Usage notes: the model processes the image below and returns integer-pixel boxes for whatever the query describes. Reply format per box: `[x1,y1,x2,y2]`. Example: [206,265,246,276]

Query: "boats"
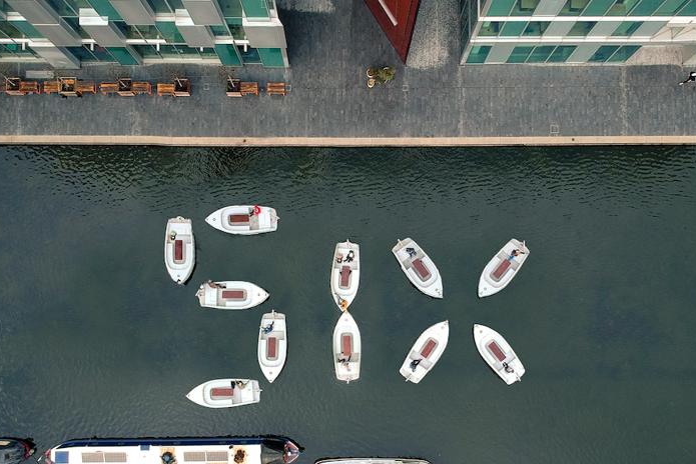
[47,435,311,464]
[166,214,195,285]
[333,311,362,383]
[198,280,269,309]
[477,238,529,298]
[401,320,449,383]
[474,323,525,385]
[392,238,444,299]
[258,310,287,383]
[206,205,280,234]
[331,241,361,312]
[189,379,263,409]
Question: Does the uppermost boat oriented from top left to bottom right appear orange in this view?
No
